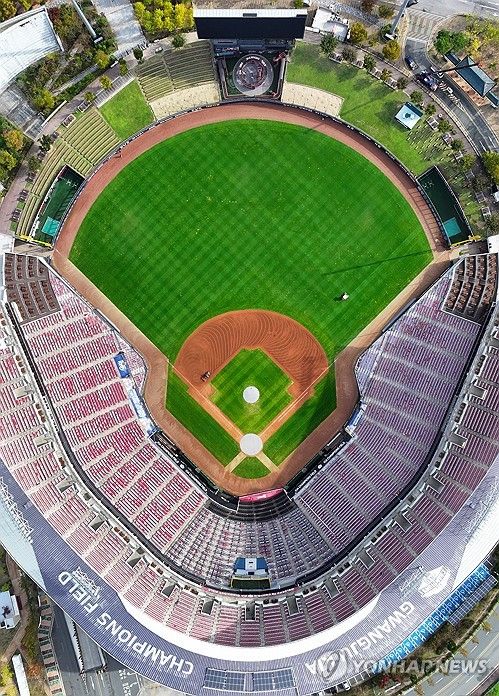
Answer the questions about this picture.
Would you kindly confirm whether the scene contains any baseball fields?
Yes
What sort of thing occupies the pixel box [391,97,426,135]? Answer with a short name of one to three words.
tent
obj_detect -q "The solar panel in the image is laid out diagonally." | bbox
[450,578,498,625]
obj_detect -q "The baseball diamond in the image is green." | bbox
[46,103,455,503]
